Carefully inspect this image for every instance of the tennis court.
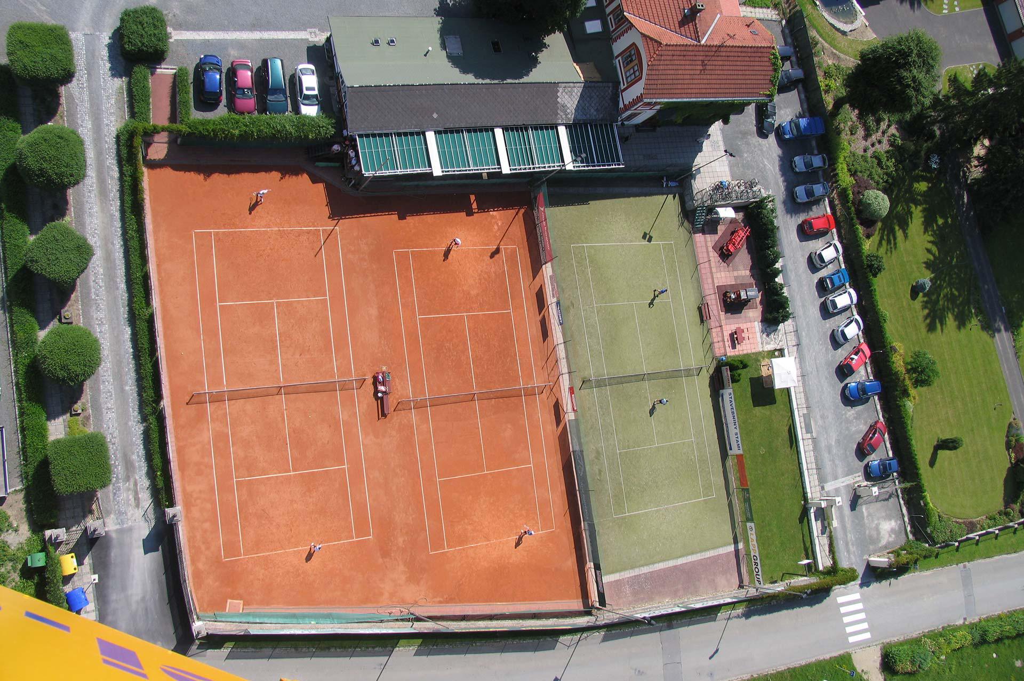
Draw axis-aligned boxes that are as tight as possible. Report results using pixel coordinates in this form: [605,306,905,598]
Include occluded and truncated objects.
[356,193,587,604]
[541,193,736,581]
[146,170,401,612]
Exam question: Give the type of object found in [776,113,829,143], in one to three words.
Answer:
van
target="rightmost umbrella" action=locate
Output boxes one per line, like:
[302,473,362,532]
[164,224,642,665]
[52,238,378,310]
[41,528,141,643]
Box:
[767,357,797,388]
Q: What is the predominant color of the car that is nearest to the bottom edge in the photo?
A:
blue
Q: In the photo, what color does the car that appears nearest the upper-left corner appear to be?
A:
blue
